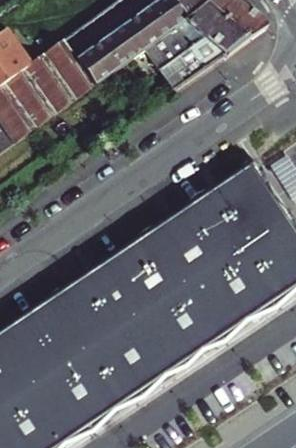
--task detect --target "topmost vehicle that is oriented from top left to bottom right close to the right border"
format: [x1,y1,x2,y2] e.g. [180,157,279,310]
[267,354,284,374]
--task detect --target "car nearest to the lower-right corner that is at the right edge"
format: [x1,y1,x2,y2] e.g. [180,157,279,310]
[276,386,293,406]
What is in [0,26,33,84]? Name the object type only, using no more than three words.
house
